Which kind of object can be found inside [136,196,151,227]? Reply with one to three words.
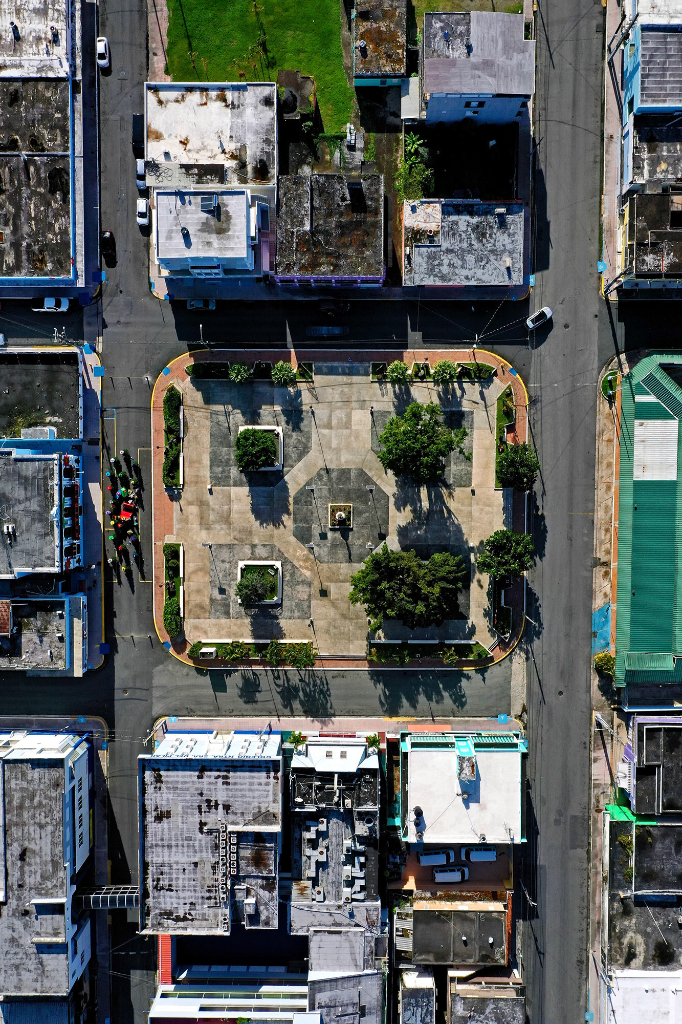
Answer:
car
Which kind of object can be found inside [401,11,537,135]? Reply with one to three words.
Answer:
house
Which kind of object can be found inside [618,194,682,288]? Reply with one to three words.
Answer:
building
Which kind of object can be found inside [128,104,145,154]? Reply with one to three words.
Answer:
vehicle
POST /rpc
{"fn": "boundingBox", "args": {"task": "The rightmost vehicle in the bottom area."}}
[460,843,496,862]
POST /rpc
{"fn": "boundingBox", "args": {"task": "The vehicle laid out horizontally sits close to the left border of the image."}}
[32,297,72,314]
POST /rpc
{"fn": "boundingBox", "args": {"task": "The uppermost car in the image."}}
[94,35,111,69]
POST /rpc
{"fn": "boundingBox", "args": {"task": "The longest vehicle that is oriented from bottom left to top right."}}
[525,307,555,332]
